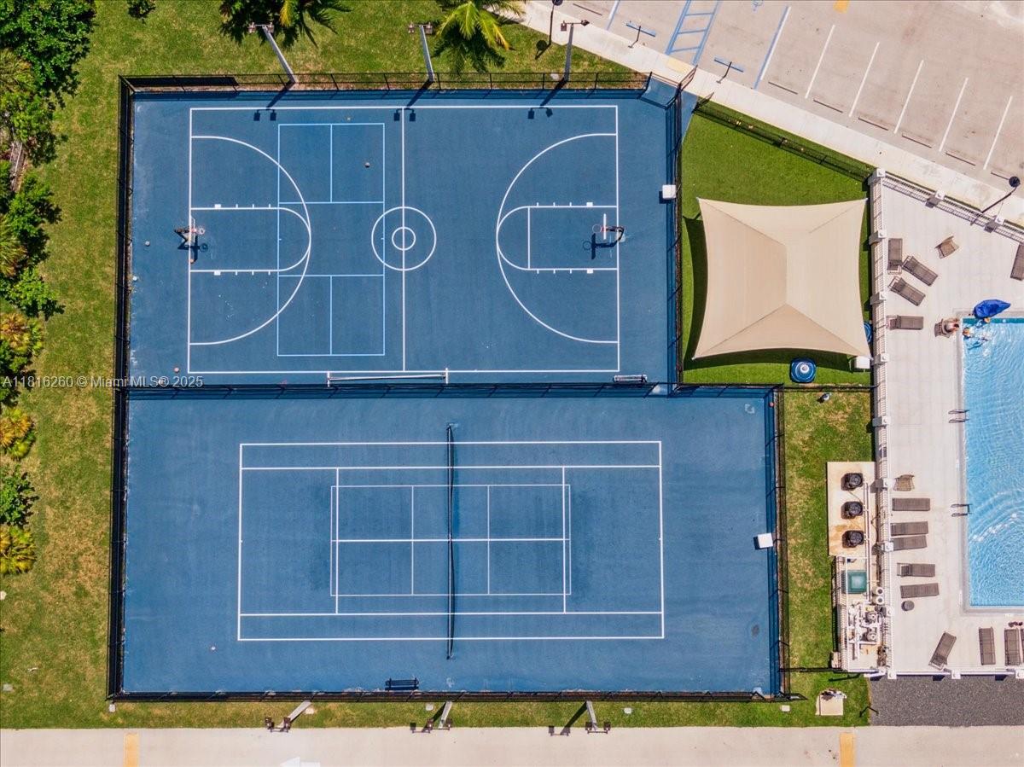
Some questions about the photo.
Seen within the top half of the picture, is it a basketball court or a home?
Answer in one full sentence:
The one visible within the top half of the picture is a basketball court.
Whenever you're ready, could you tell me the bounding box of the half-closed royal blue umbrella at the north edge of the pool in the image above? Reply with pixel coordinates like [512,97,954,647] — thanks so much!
[973,301,1012,321]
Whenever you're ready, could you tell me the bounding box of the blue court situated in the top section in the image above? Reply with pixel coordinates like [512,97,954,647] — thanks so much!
[128,79,697,385]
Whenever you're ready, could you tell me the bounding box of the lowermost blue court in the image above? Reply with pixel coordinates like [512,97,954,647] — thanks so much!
[123,386,779,694]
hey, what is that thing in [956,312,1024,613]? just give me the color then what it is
blue swimming pool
